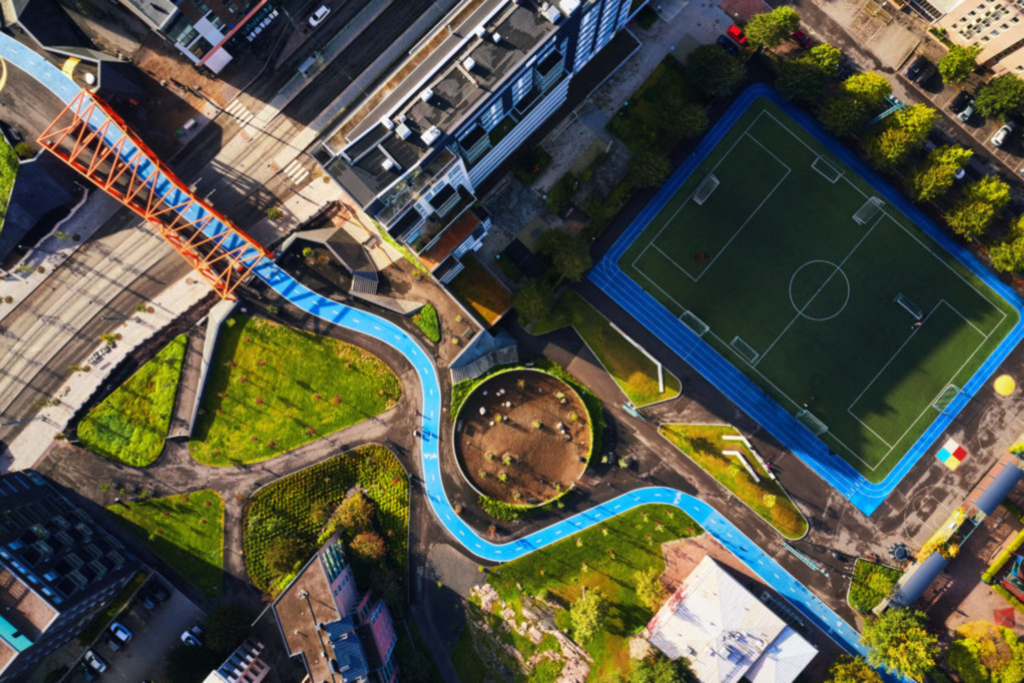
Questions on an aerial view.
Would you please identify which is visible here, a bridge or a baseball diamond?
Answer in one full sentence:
Looking from above, you can make out a bridge.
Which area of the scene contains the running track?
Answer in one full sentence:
The running track is in the right part of the image.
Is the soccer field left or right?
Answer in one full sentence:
It is on the right.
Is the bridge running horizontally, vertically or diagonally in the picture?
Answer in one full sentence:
The bridge has been laid out diagonally relative to the frame.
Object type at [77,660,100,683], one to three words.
car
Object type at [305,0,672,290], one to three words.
building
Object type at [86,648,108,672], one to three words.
car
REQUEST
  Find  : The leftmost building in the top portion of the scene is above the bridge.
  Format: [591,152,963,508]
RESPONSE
[123,0,269,81]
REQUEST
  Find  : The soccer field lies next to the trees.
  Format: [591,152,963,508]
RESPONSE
[621,99,1018,481]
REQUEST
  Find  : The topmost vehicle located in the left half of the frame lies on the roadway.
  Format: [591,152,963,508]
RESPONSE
[307,6,331,28]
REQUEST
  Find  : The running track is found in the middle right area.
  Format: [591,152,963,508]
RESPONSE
[588,80,1024,516]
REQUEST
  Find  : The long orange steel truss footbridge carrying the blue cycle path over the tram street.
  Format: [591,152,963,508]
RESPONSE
[36,90,285,304]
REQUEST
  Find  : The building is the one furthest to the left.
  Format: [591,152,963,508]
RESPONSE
[0,470,146,683]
